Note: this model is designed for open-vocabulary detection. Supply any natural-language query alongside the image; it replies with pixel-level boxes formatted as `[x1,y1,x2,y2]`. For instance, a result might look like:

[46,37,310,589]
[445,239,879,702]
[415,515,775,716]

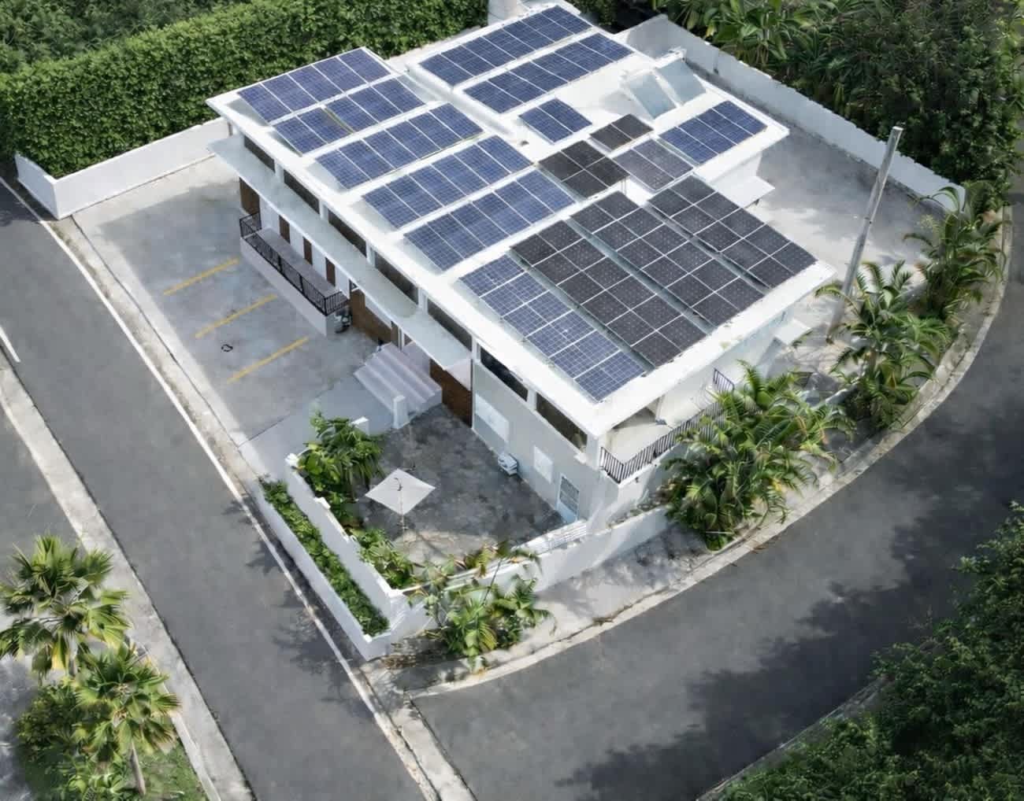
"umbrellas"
[367,469,435,545]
